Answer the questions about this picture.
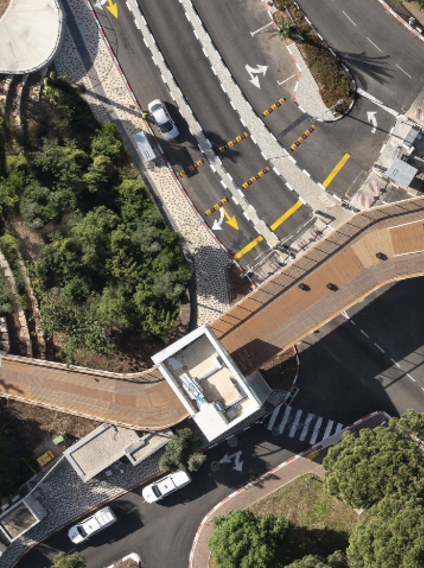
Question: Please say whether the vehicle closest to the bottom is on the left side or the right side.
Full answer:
It is on the left.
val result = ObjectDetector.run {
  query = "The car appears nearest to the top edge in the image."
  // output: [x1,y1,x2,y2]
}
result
[148,97,181,144]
